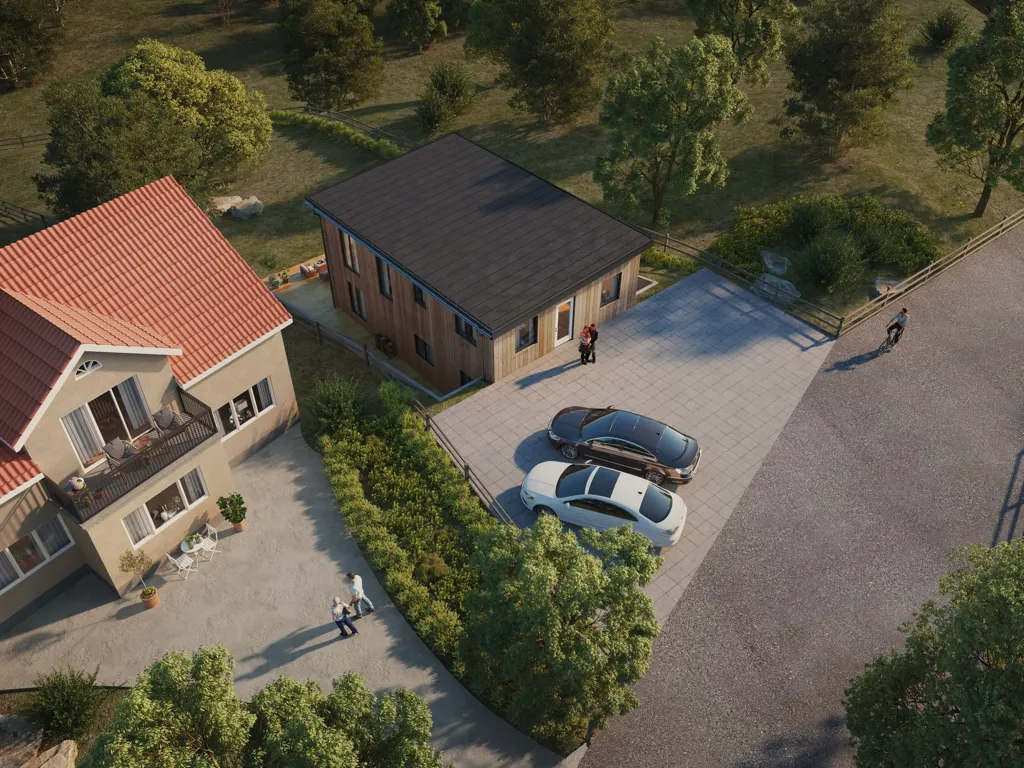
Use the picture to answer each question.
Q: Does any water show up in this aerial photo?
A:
No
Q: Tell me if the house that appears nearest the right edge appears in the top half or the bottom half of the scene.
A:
top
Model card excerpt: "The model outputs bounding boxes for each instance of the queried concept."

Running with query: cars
[546,404,702,487]
[518,455,684,544]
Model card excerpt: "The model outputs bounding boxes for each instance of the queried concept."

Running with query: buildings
[0,175,301,623]
[300,132,655,394]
